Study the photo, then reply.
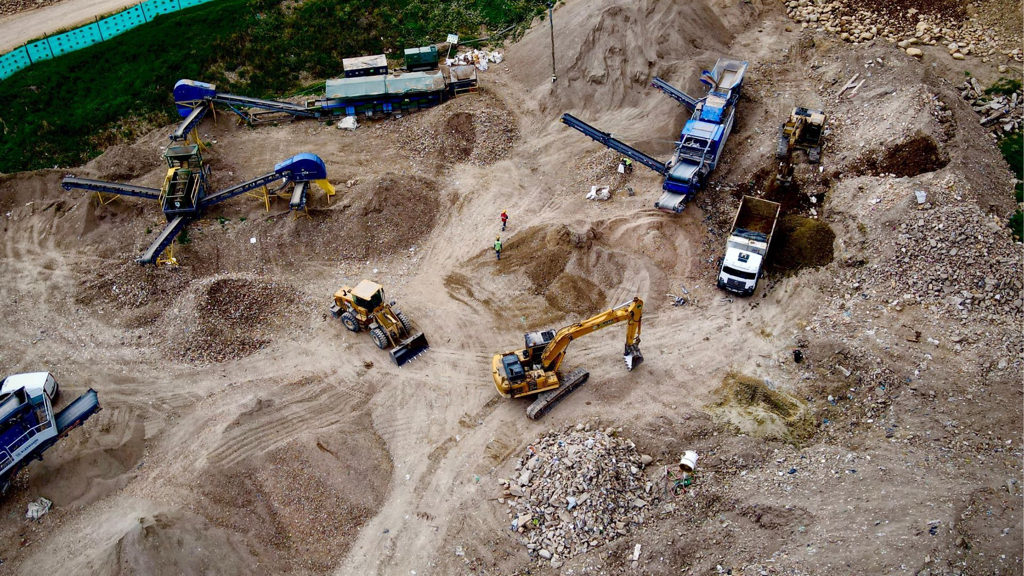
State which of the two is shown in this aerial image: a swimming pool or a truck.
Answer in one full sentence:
The image shows a truck.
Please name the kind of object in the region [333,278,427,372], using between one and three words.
work vehicle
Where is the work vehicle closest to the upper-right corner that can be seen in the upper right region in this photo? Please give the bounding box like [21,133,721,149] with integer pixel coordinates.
[779,112,831,186]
